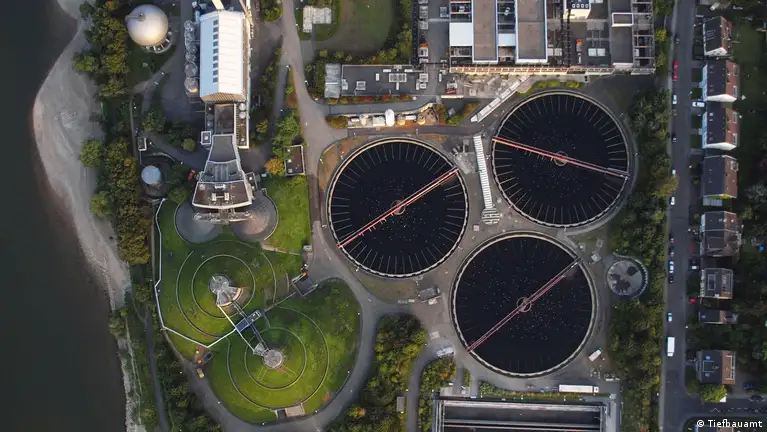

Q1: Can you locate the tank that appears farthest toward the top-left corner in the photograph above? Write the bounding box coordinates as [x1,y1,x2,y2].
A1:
[125,4,170,51]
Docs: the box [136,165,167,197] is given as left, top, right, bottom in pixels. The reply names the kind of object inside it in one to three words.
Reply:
storage tank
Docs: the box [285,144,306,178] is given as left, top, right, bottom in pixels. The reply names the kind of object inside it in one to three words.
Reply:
building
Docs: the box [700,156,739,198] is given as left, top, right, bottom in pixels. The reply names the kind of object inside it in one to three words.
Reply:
house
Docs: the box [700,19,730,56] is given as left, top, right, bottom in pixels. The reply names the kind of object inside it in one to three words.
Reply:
house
